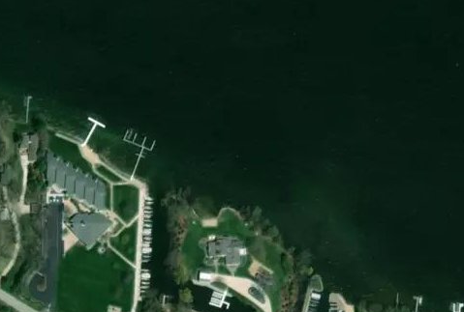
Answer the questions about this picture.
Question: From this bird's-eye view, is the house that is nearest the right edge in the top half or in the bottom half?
bottom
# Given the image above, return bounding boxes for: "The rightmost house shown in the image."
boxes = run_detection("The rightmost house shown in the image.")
[209,235,248,264]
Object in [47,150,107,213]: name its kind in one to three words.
building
